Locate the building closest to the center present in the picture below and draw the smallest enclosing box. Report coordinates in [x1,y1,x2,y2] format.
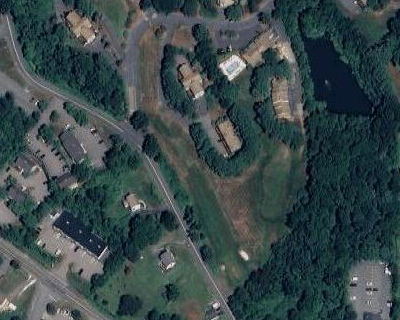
[214,118,241,154]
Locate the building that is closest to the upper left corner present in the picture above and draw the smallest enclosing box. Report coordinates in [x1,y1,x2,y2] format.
[64,7,99,46]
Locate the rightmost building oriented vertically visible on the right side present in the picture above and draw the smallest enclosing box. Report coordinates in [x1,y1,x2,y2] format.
[270,75,292,119]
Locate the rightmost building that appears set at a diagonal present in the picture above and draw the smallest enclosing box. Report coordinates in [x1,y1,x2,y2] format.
[239,23,286,63]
